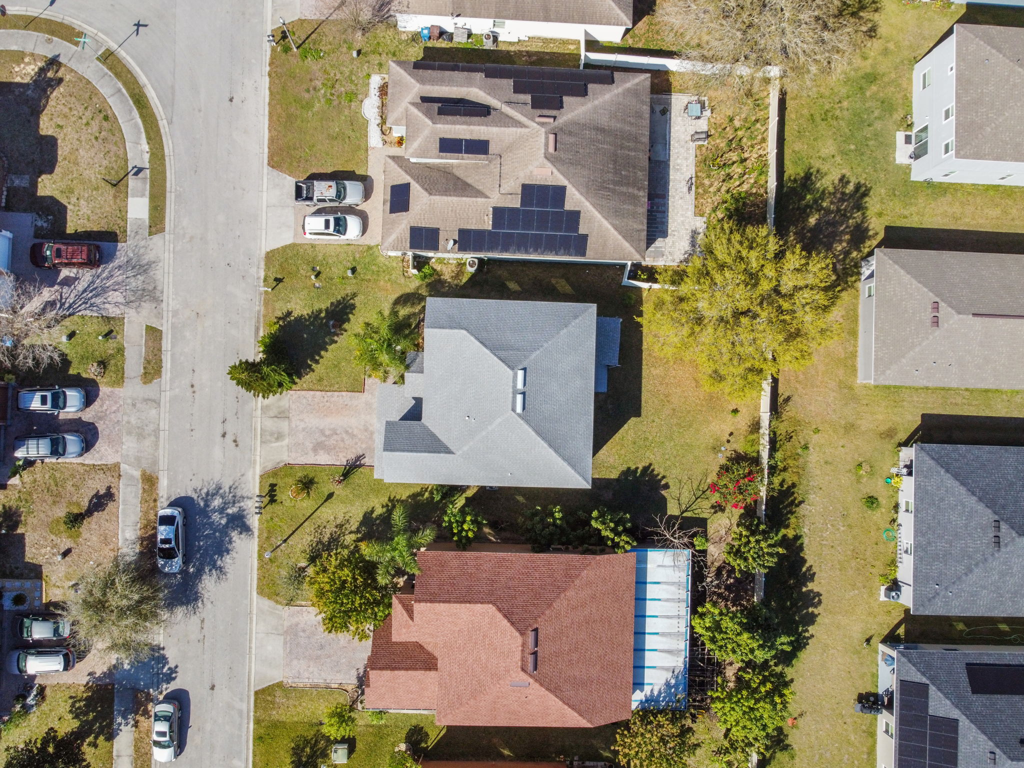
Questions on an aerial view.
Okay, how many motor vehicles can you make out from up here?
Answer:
nine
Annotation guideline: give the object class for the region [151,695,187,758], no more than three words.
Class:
car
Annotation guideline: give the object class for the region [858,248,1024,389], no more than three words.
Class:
house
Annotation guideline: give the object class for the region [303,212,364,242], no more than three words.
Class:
car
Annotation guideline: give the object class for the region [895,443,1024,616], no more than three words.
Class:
house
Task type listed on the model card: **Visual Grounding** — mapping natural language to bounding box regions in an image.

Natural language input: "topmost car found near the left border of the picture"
[33,238,105,271]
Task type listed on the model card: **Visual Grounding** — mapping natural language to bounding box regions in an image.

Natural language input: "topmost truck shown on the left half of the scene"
[294,177,366,209]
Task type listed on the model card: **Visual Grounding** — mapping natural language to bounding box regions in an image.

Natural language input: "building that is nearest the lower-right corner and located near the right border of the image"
[878,643,1024,768]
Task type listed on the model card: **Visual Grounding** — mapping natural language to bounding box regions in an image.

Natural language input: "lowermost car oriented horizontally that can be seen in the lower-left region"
[9,643,81,678]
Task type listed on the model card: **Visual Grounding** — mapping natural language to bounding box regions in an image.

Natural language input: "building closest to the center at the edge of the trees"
[375,298,621,489]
